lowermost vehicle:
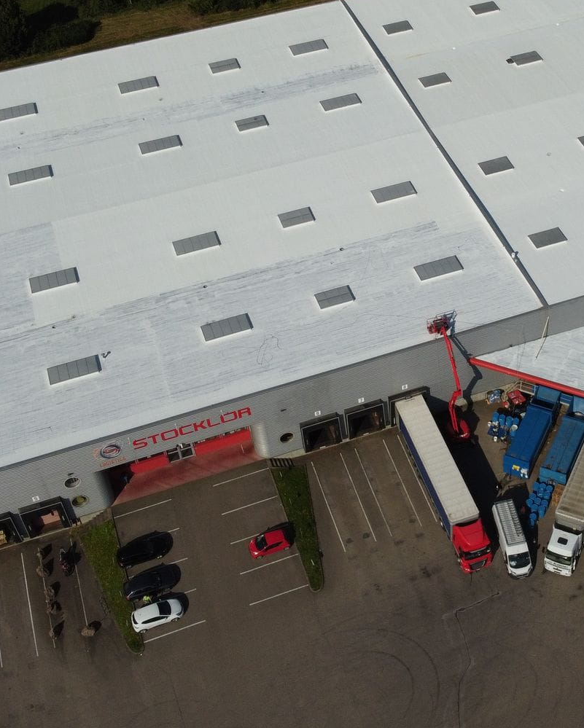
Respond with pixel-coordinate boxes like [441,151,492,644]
[128,597,184,635]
